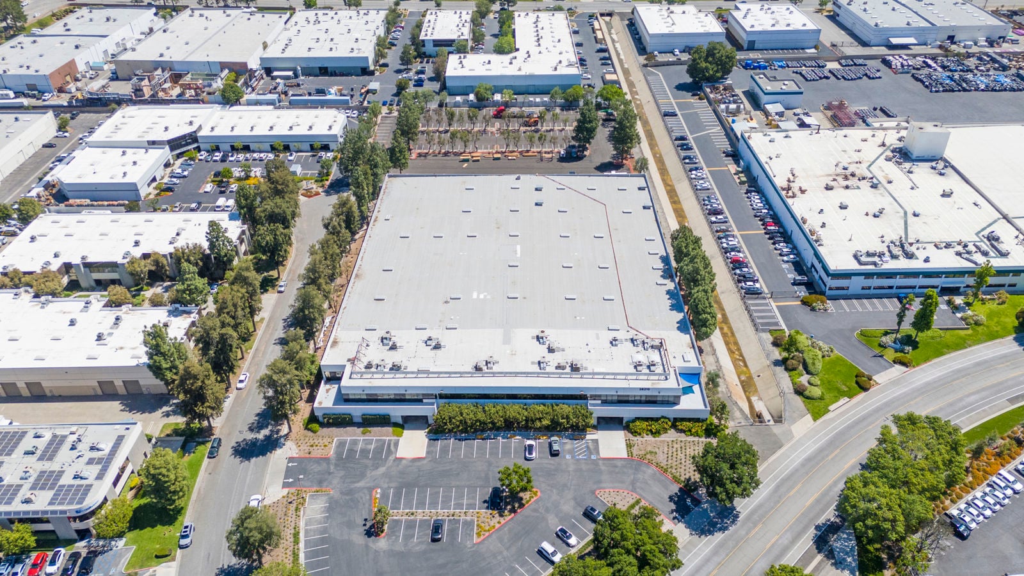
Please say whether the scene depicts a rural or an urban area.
urban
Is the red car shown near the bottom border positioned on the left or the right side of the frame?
left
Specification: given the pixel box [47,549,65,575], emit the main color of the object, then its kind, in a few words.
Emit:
white car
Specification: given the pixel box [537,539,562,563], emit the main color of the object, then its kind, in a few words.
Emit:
white car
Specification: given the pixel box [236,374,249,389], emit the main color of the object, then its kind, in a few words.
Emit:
white vehicle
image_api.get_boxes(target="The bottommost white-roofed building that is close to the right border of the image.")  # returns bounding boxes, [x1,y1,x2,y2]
[738,126,1024,298]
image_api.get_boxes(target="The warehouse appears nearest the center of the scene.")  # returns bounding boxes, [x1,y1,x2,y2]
[314,174,709,426]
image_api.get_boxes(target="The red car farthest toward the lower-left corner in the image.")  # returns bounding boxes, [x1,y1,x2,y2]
[28,550,48,576]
